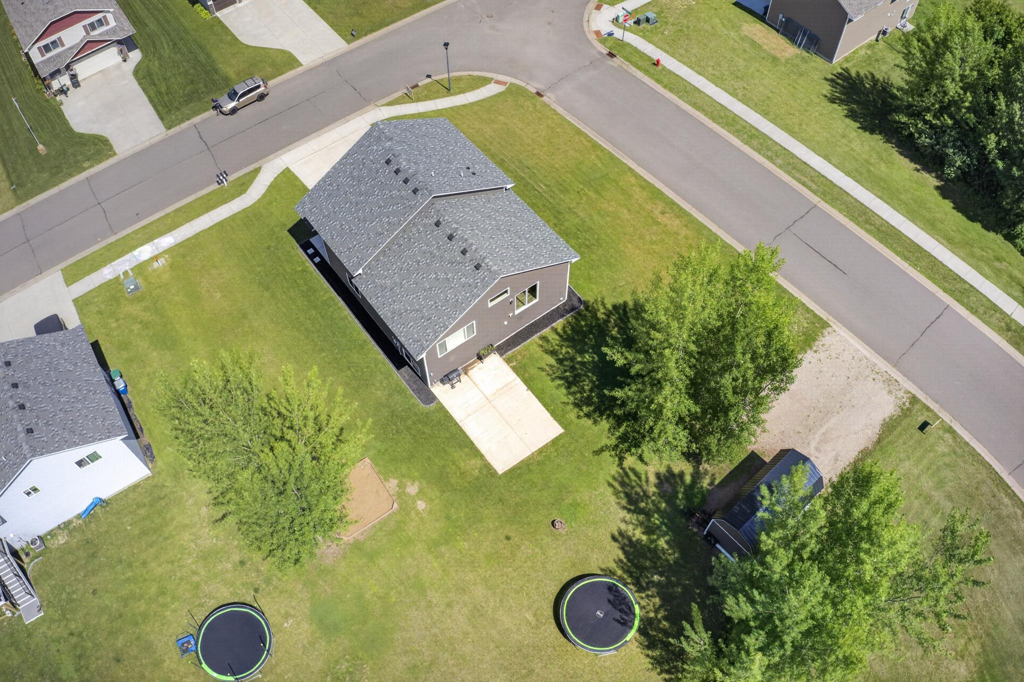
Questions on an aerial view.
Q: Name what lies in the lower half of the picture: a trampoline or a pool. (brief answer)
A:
trampoline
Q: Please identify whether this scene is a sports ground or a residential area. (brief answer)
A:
residential area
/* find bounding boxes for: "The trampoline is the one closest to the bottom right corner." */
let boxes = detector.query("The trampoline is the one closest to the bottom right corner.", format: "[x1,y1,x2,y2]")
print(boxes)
[559,574,640,665]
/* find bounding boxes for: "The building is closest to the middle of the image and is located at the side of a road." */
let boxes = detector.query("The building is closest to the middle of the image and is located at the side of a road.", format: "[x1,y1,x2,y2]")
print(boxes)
[296,120,578,389]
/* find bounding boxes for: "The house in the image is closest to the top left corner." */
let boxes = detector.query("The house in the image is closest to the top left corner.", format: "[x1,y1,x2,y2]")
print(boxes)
[0,0,138,100]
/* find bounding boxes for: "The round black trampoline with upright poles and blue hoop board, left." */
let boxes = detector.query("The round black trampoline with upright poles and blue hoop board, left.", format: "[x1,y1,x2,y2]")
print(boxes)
[179,602,276,682]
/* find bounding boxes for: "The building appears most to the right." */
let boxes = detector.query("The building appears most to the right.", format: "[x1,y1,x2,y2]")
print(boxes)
[775,0,921,62]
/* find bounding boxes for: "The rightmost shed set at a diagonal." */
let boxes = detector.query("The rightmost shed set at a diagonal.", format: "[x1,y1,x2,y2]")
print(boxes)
[703,448,821,570]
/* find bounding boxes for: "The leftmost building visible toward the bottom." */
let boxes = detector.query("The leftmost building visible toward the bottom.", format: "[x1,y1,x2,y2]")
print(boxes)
[0,325,151,539]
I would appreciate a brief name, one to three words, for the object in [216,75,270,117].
car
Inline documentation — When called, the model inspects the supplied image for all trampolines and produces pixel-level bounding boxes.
[559,574,640,665]
[179,602,276,682]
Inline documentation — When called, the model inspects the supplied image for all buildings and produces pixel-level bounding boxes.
[0,325,151,539]
[296,120,578,389]
[703,448,821,570]
[0,0,138,100]
[775,0,921,62]
[193,0,244,20]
